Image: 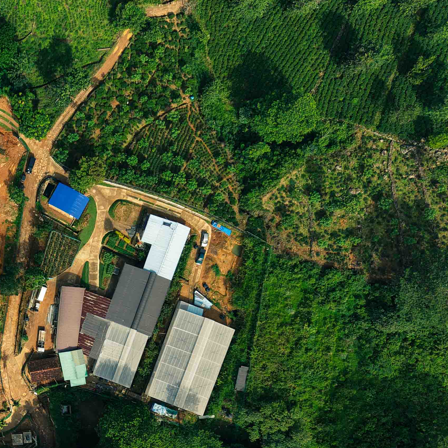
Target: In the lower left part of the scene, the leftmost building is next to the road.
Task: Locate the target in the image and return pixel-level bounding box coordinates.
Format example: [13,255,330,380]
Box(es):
[28,355,64,386]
